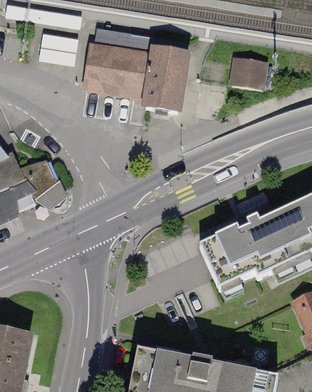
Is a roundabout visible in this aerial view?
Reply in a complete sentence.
No, no roundabout can be seen from above.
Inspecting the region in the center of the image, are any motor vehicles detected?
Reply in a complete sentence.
Yes, looking in the center of the image, one can make out a motor vehicle.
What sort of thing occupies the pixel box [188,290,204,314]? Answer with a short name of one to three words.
car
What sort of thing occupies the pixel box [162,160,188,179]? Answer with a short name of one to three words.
vehicle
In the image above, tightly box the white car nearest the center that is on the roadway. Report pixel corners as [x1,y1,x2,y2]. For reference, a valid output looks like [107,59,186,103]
[214,166,240,184]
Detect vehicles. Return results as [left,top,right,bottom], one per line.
[119,99,130,123]
[214,166,240,184]
[188,290,204,314]
[103,97,114,119]
[0,32,6,56]
[162,160,188,179]
[42,134,62,156]
[164,300,180,324]
[0,229,10,242]
[87,93,98,118]
[114,344,126,367]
